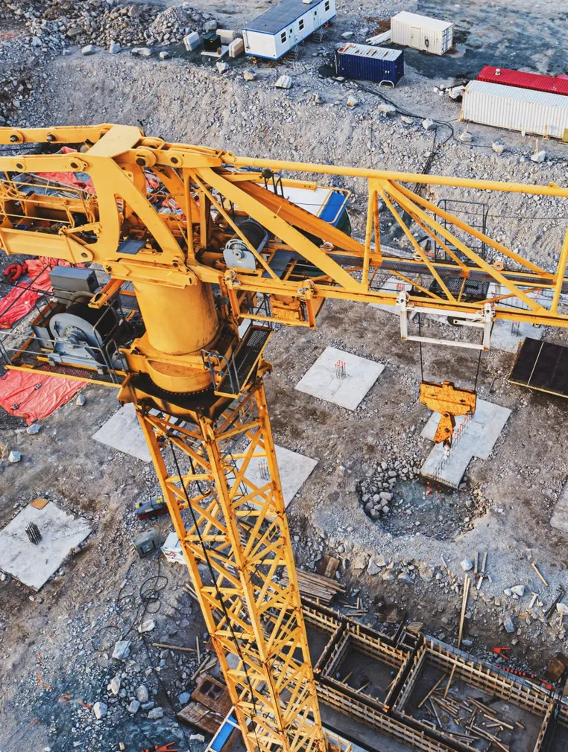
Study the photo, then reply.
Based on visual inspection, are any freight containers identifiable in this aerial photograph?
Yes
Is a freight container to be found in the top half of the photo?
Yes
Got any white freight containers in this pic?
Yes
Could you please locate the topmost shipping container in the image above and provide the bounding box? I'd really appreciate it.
[392,5,456,56]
